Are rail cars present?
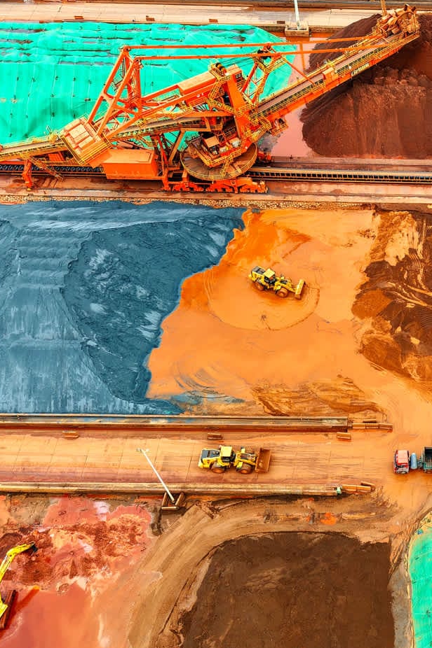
No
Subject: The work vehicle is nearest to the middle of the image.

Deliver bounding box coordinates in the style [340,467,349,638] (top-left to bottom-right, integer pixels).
[244,269,304,302]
